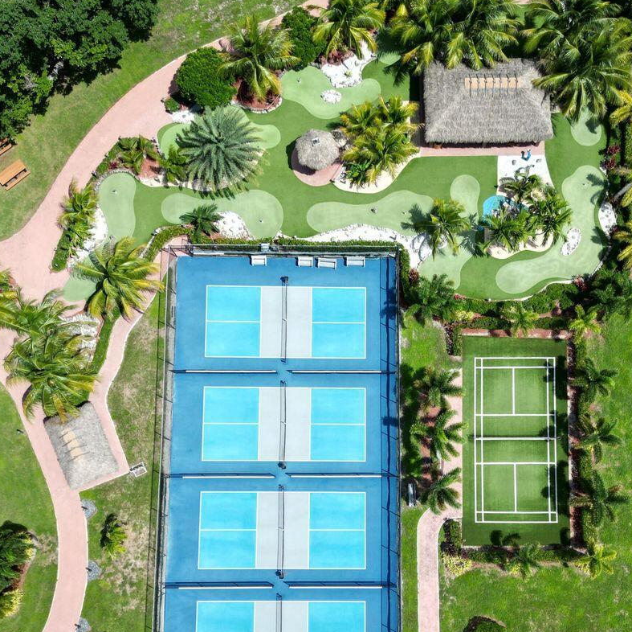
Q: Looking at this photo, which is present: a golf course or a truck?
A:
golf course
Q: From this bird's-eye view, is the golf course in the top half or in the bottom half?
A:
top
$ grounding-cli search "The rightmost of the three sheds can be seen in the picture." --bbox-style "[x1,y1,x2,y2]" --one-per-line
[422,64,556,145]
